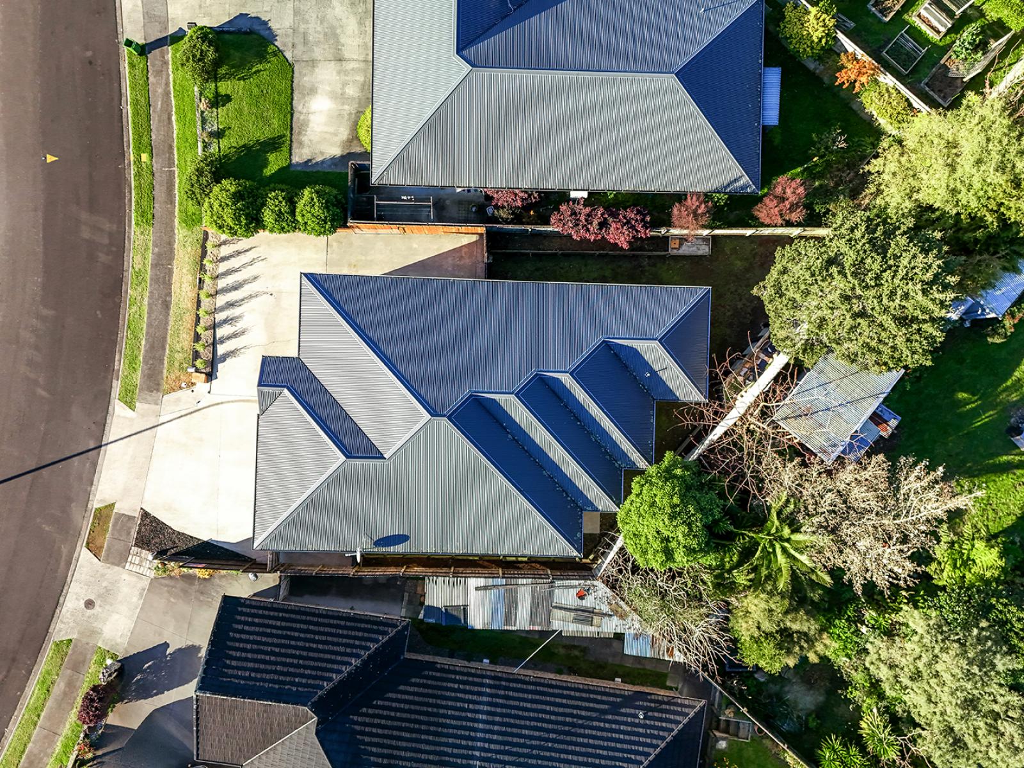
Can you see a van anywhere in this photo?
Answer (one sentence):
No, no van is visible in the view.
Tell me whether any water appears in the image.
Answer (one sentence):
No, there is no water in the image.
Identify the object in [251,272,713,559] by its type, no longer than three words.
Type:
house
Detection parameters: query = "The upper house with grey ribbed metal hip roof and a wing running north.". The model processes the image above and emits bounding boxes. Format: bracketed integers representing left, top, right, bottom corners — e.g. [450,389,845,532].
[368,0,768,196]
